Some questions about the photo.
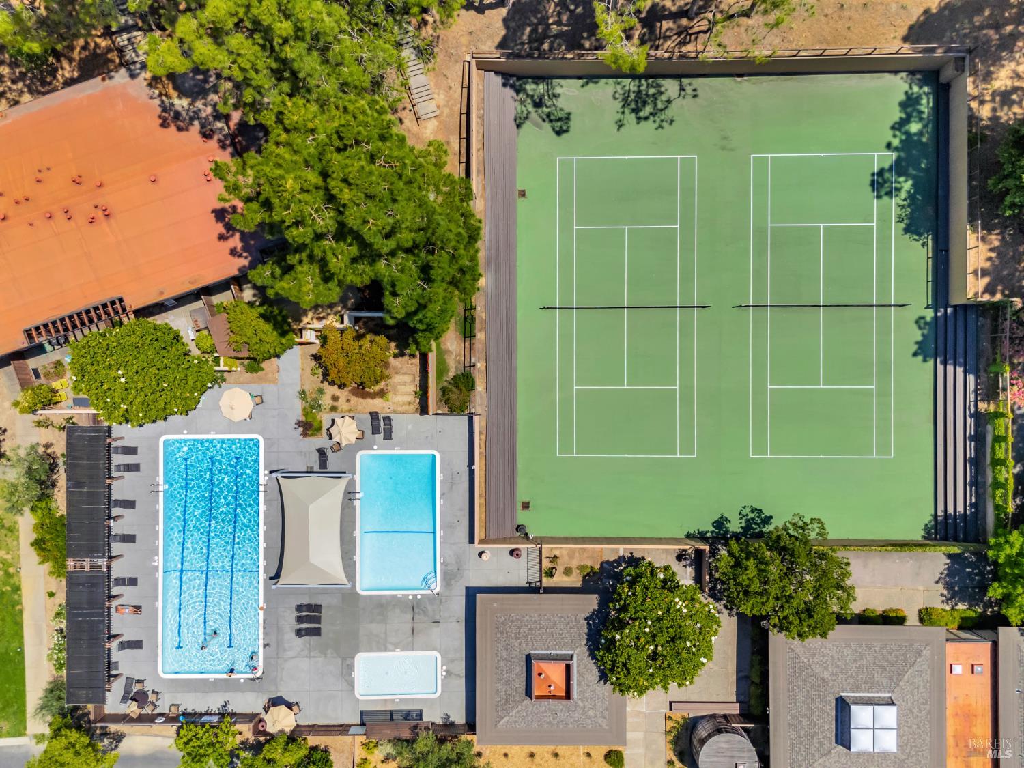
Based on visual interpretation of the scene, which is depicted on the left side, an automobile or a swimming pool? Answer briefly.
swimming pool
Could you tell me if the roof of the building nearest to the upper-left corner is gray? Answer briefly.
No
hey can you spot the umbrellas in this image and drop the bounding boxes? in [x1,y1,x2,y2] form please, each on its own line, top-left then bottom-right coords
[329,416,360,447]
[266,700,298,734]
[221,388,254,420]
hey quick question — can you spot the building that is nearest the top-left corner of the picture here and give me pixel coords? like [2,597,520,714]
[0,69,270,357]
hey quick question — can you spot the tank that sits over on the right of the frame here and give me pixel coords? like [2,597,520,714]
[689,714,762,768]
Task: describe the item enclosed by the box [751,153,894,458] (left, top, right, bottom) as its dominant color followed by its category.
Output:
green tennis court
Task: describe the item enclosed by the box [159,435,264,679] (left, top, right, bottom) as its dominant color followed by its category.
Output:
blue swimming pool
